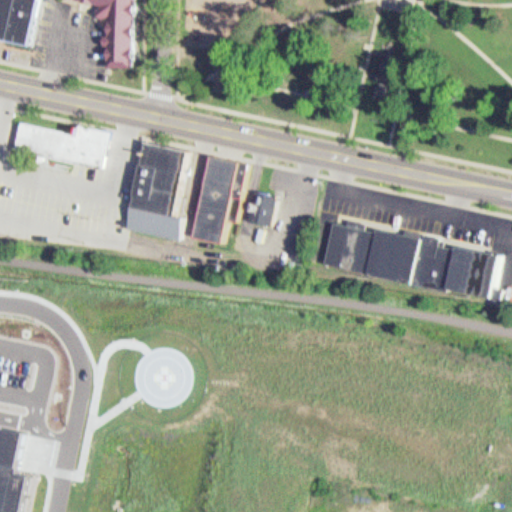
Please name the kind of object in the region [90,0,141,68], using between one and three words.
building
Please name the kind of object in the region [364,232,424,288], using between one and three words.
building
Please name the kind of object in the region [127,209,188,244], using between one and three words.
shed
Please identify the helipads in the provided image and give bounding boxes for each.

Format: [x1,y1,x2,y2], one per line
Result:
[136,349,194,407]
